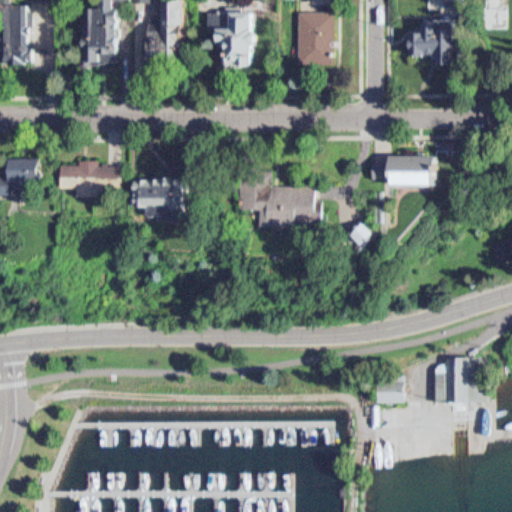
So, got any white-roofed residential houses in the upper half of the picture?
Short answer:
Yes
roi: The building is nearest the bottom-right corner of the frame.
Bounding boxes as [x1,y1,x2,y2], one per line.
[454,357,468,410]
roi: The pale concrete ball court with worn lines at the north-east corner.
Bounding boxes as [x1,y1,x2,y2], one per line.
[485,0,509,30]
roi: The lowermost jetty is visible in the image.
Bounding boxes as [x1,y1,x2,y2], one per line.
[54,471,296,512]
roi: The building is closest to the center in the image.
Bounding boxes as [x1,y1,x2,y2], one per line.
[240,172,324,227]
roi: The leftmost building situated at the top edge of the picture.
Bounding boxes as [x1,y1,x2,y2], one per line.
[2,3,32,65]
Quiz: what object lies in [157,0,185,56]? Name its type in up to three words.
house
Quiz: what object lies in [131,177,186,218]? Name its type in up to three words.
house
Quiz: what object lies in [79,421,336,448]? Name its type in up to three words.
pier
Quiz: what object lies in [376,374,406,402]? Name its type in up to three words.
shed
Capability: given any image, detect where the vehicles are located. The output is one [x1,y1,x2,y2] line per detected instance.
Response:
[377,5,384,26]
[122,61,129,76]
